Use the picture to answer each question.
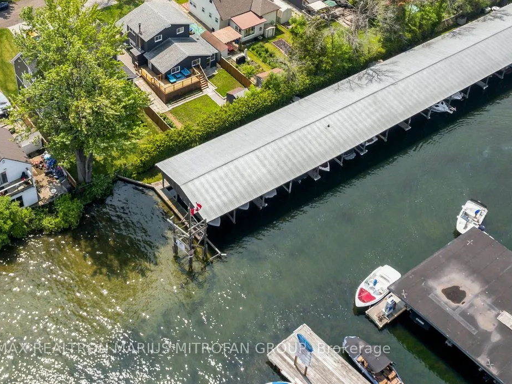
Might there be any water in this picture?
Yes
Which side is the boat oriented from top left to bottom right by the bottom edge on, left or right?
right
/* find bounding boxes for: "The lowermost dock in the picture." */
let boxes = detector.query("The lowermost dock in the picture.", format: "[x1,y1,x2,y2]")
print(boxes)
[262,323,362,384]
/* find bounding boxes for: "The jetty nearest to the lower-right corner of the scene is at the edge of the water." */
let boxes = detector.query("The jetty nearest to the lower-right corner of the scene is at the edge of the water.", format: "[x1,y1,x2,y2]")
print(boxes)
[365,293,409,330]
